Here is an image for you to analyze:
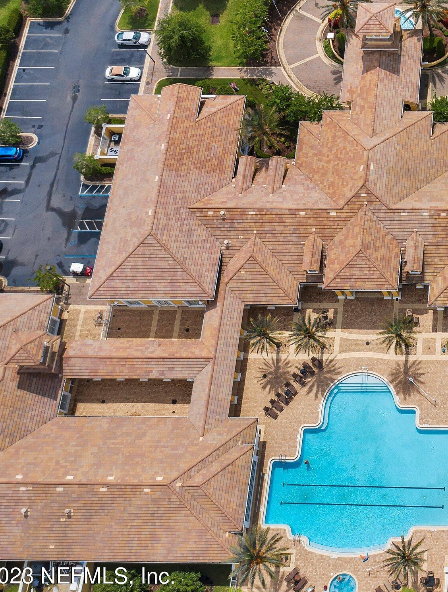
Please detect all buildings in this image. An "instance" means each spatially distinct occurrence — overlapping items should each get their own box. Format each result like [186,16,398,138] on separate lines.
[87,2,448,312]
[0,294,265,564]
